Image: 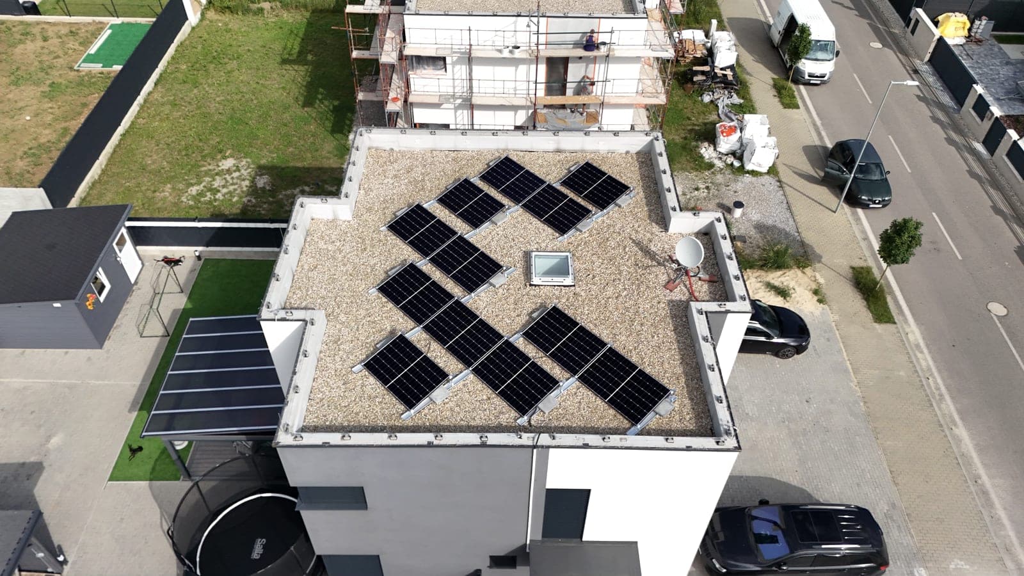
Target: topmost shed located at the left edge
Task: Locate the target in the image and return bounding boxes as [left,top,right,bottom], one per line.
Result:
[0,204,143,349]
